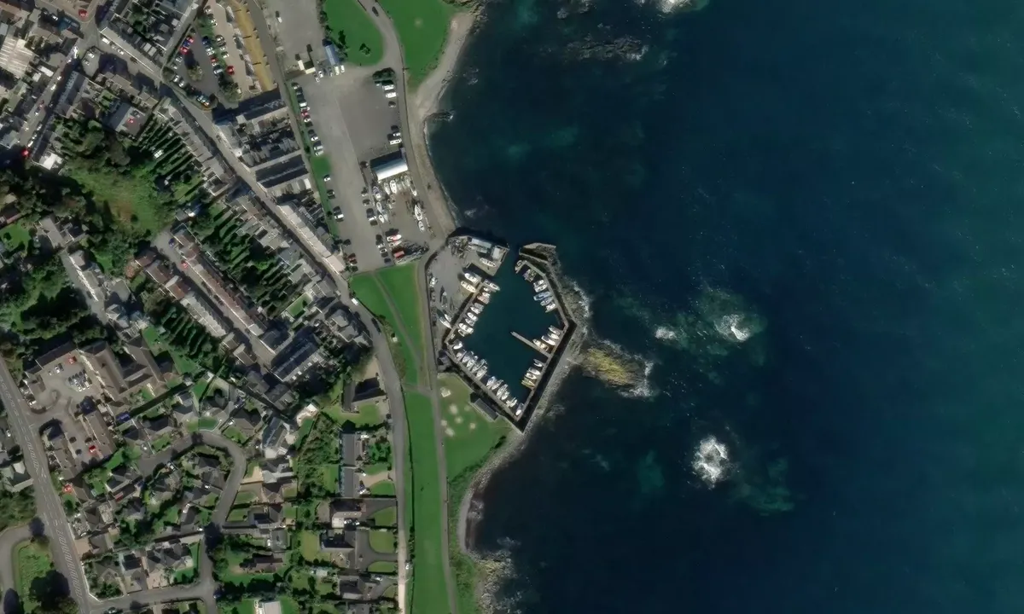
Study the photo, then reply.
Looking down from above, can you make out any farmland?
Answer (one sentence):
No, there is no farmland in the image.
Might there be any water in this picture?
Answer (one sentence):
Yes, water can be seen from above here.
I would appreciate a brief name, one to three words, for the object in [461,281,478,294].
boat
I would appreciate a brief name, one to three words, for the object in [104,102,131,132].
building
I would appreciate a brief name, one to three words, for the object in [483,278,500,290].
boat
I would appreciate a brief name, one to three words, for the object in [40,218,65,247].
house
